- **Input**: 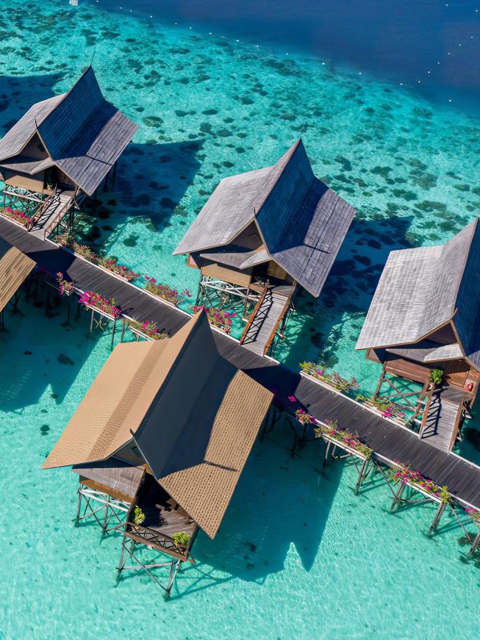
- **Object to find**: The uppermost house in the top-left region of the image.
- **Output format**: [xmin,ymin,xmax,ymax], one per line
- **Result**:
[0,48,139,237]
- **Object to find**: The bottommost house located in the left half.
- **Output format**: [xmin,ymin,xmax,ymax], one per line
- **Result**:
[41,287,270,599]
